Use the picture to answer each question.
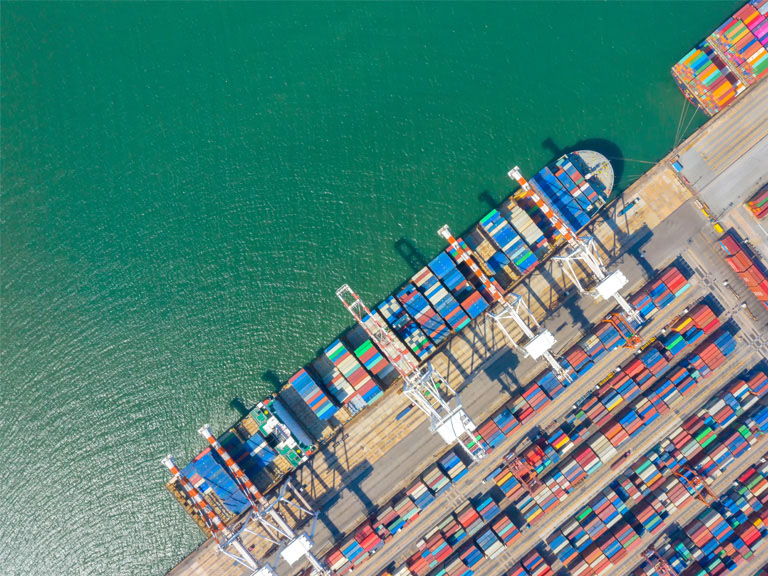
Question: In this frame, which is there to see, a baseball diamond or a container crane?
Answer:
container crane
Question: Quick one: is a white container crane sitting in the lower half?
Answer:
Yes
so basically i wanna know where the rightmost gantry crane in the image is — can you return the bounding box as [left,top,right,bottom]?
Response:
[668,461,714,504]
